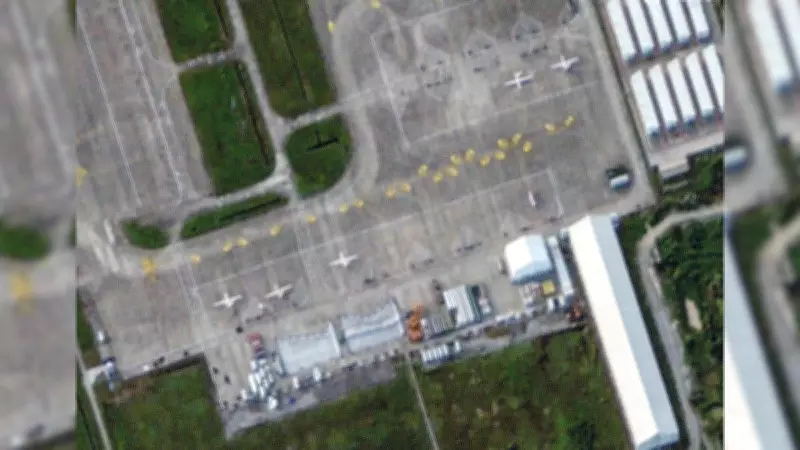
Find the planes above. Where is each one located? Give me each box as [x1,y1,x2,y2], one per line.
[263,284,292,303]
[552,55,579,73]
[213,291,242,311]
[505,70,533,89]
[330,251,359,271]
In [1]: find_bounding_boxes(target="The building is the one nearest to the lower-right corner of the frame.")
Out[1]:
[724,291,764,450]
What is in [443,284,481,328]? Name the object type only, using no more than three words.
shed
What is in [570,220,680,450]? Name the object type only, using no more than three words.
hangar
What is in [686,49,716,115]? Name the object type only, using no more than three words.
building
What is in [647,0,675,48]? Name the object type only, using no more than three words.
building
